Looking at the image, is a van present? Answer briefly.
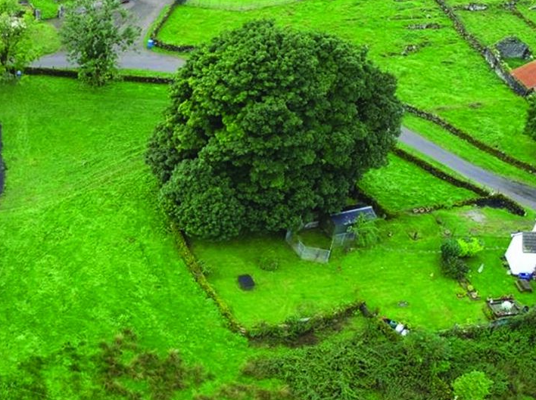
No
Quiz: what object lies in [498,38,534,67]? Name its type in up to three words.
shed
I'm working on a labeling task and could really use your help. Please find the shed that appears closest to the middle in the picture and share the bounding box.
[322,200,378,234]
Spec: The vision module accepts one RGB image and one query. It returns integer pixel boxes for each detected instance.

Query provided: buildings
[499,233,536,275]
[322,200,378,234]
[498,38,534,67]
[507,61,536,99]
